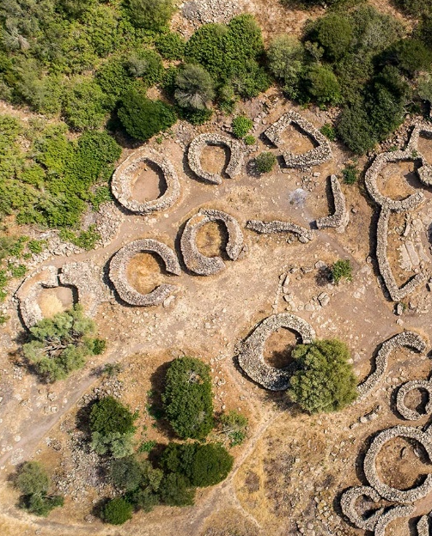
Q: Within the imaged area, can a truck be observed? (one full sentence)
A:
No, the picture doesn't show any truck.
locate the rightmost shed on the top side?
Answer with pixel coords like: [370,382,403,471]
[364,151,425,207]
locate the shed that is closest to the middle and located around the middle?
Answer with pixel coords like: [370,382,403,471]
[182,207,247,276]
